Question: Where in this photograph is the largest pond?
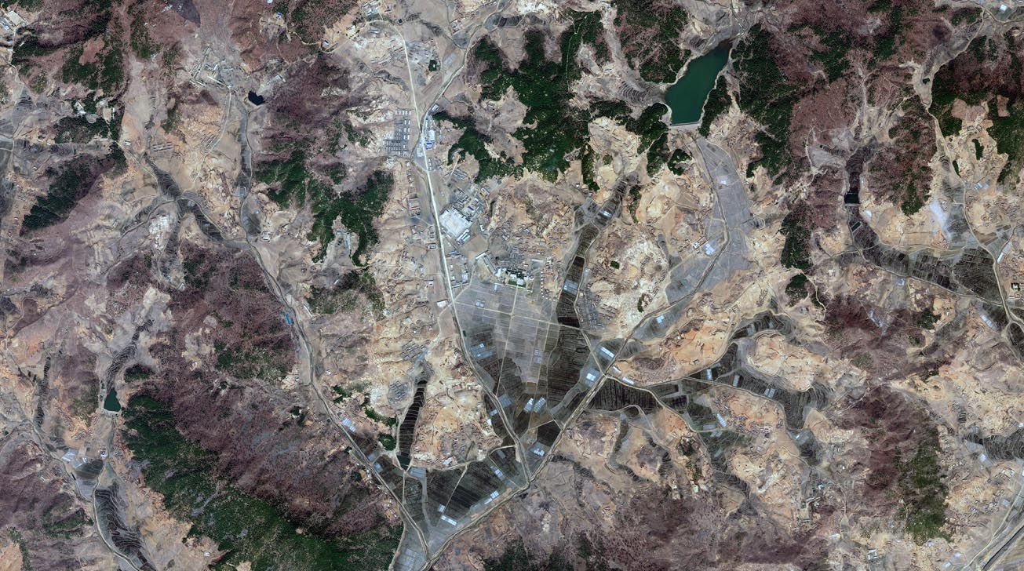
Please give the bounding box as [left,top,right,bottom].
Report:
[665,40,731,125]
